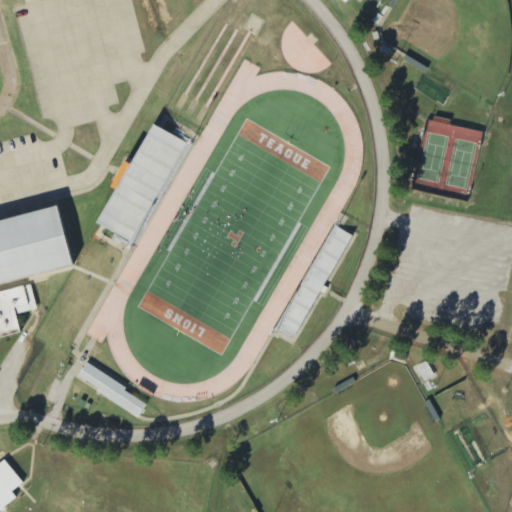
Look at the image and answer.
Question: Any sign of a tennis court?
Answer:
Yes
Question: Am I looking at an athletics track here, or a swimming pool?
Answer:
athletics track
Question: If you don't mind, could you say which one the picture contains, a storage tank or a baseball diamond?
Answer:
baseball diamond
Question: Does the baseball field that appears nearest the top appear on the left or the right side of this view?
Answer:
right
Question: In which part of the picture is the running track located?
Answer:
center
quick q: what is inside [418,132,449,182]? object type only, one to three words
tennis court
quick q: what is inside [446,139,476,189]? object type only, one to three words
tennis court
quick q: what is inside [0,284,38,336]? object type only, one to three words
building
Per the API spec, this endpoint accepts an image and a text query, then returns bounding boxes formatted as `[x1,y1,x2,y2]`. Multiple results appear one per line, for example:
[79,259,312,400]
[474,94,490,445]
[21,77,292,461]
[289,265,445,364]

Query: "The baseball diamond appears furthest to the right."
[392,0,458,58]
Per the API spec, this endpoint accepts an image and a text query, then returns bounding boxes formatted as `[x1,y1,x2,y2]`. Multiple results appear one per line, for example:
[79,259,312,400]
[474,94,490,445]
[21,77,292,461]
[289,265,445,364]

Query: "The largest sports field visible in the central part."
[124,90,345,384]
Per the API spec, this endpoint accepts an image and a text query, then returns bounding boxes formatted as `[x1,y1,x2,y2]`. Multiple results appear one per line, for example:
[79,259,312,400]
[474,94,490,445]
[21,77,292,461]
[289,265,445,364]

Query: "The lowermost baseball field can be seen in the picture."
[328,376,430,472]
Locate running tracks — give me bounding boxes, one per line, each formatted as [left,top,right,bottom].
[86,59,363,402]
